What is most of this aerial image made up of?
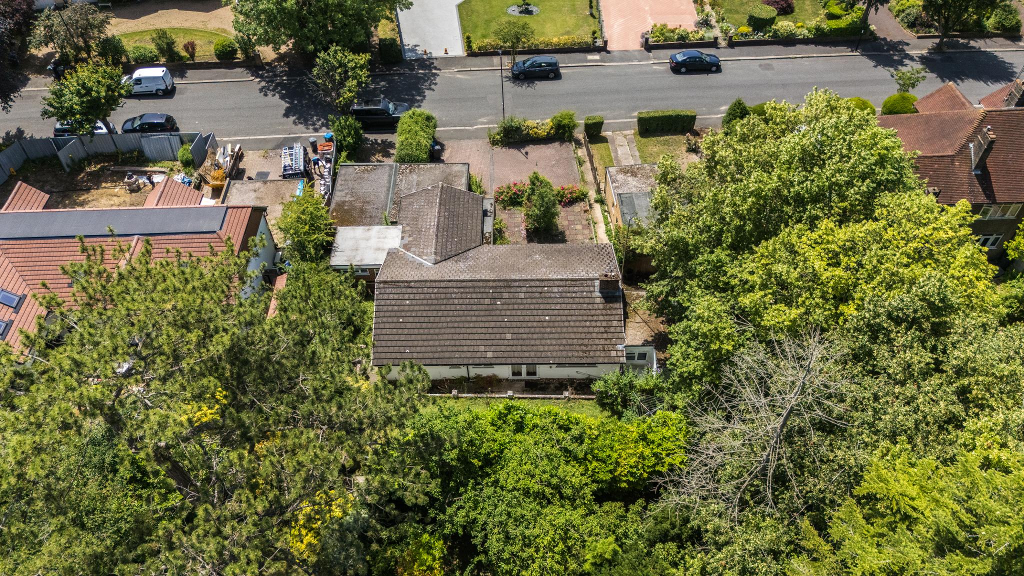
trees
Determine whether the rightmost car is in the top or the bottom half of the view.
top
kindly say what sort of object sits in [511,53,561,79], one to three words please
car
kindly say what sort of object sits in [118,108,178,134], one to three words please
car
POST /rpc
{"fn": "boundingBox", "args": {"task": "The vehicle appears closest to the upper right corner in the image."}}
[669,48,724,72]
